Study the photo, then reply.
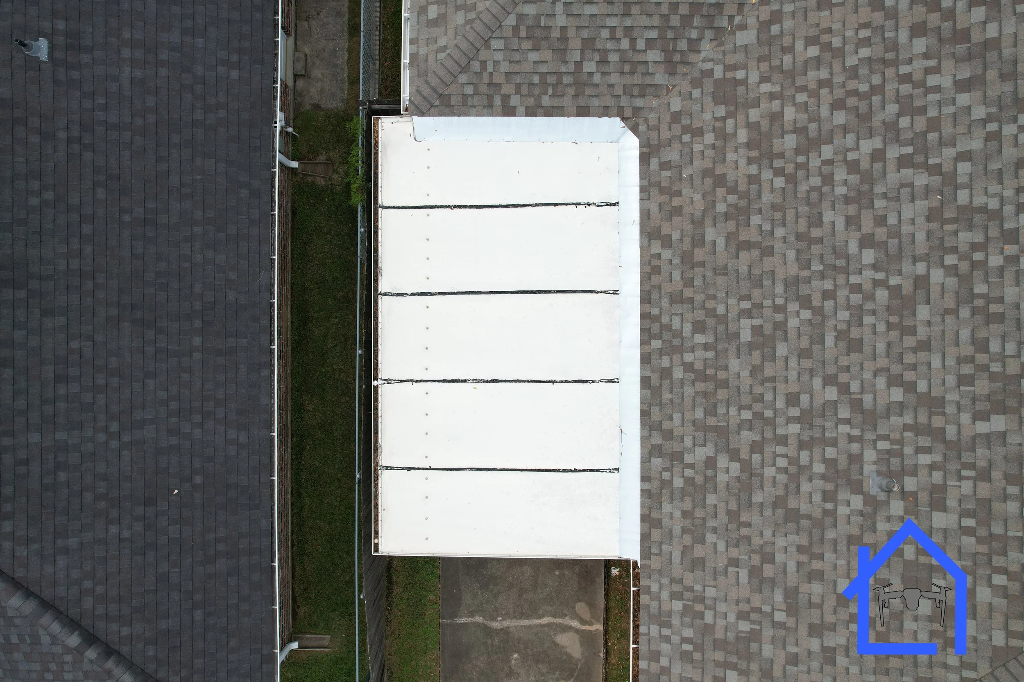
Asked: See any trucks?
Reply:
No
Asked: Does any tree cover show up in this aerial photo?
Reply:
No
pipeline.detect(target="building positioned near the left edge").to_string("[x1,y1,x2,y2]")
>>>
[0,0,300,682]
